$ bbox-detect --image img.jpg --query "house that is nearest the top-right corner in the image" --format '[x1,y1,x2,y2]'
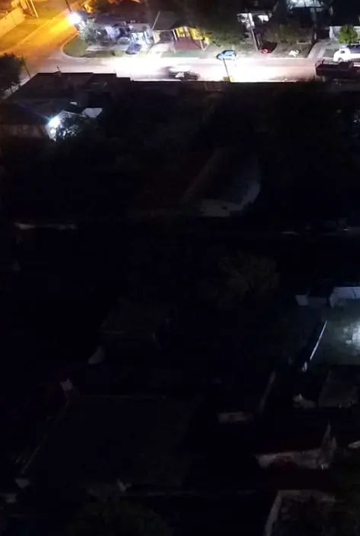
[292,12,324,44]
